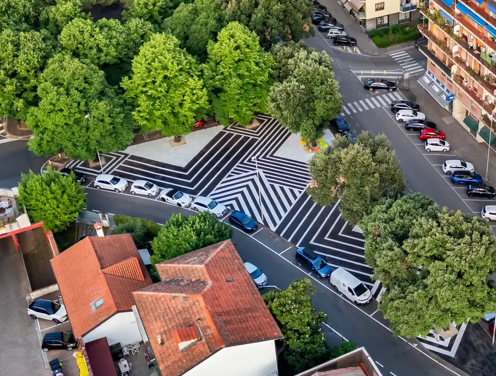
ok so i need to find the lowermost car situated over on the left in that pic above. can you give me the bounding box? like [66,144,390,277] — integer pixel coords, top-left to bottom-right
[37,331,77,354]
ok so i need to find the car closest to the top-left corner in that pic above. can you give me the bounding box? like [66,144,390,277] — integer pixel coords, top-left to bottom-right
[57,166,90,183]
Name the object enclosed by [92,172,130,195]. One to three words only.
car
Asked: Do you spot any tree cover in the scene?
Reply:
Yes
